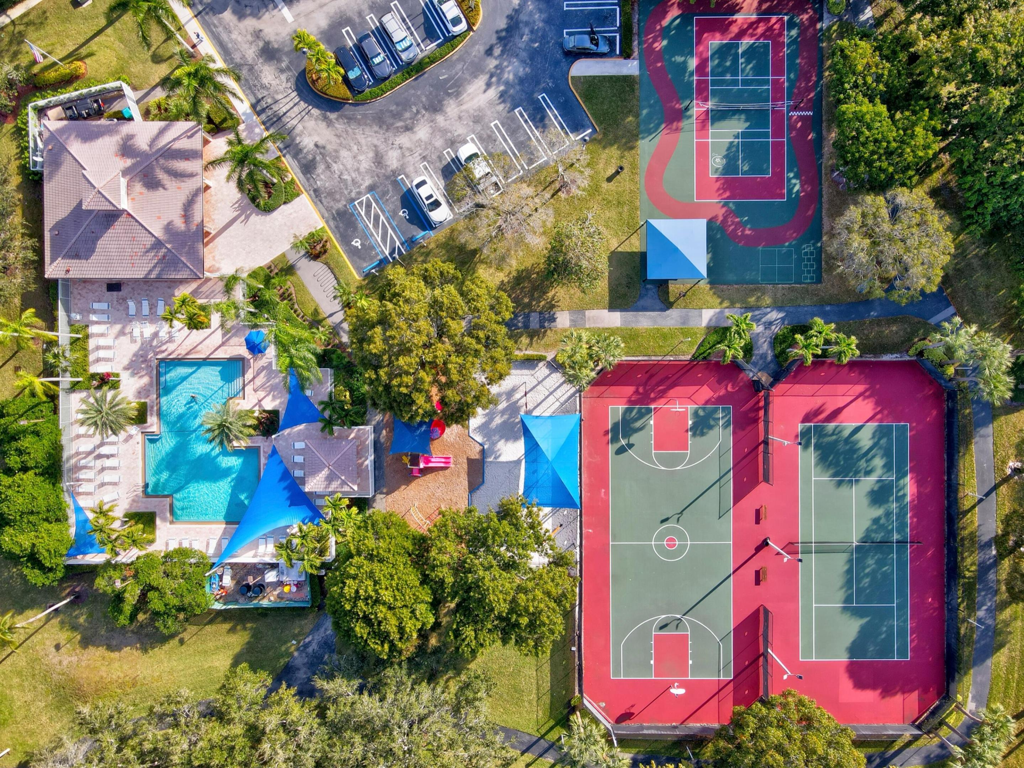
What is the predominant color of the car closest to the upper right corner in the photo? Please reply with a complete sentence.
The car closest to the upper right corner is blue.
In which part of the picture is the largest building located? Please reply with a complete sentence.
The largest building is located in the top left region of the scene.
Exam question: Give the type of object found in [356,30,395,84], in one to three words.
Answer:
car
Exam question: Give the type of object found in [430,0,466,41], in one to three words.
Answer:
car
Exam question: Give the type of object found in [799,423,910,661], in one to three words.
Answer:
tennis court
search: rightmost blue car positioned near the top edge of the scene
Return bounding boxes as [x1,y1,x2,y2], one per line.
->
[562,23,610,56]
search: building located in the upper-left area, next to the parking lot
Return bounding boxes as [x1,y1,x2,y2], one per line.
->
[41,120,217,279]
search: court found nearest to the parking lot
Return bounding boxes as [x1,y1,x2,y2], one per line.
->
[639,0,823,284]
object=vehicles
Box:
[333,44,371,95]
[356,30,395,84]
[462,140,506,200]
[562,23,610,56]
[430,0,466,41]
[380,11,420,66]
[410,175,449,226]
